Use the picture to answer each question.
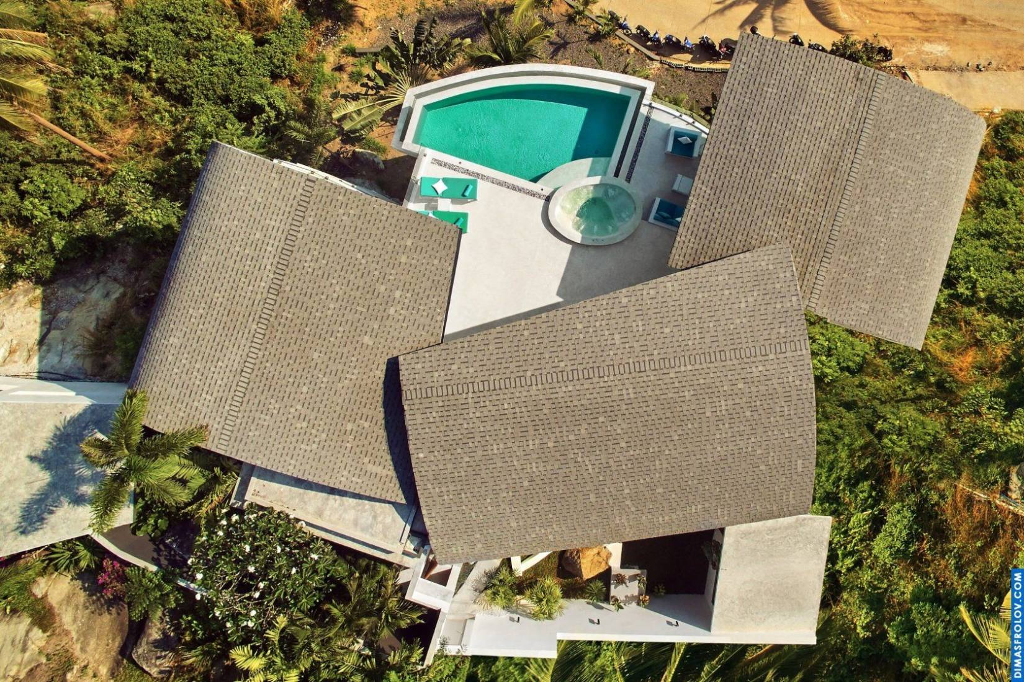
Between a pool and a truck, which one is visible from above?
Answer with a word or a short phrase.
pool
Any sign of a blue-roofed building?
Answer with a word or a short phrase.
No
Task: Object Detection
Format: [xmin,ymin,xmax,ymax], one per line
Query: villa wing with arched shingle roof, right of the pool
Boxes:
[670,34,985,351]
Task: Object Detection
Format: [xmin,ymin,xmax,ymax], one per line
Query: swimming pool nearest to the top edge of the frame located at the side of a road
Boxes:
[392,63,655,192]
